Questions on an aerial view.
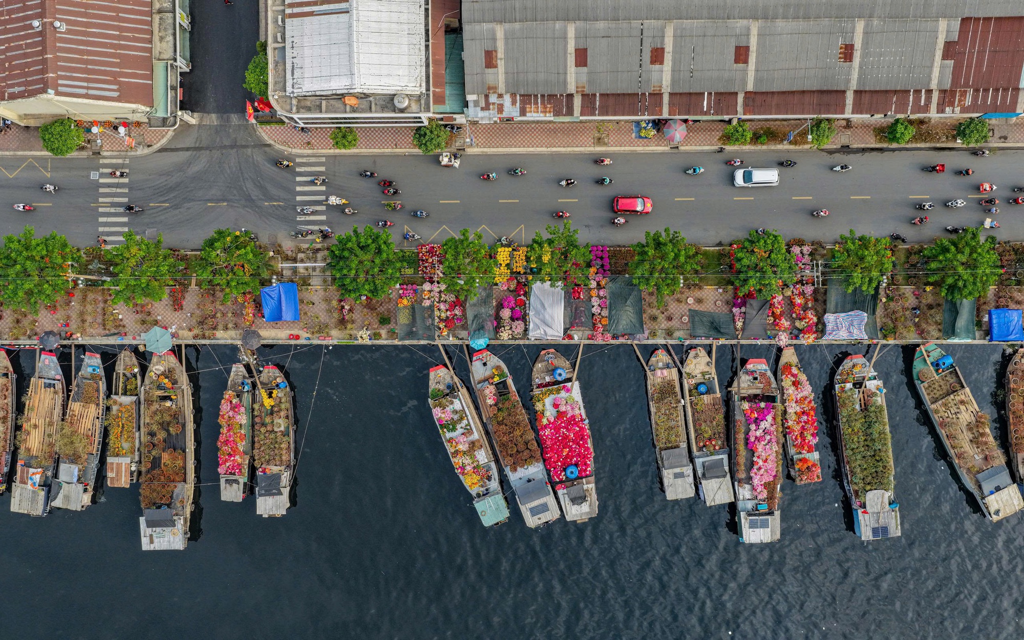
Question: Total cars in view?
two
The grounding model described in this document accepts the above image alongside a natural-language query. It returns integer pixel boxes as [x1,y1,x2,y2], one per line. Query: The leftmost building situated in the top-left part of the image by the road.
[0,0,158,124]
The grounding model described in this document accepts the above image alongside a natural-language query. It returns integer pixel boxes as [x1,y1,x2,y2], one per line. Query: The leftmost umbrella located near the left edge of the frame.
[42,330,62,350]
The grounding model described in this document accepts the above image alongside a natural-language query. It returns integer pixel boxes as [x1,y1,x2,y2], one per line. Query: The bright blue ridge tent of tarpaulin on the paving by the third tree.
[261,283,302,321]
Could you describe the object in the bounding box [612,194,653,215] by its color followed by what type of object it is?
red car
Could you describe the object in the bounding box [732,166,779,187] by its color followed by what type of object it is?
white car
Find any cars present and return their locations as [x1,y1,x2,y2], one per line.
[612,194,653,215]
[732,166,779,187]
